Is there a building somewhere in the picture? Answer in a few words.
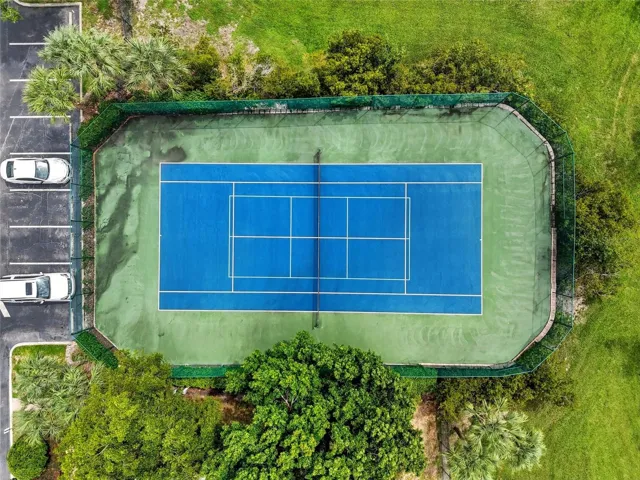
No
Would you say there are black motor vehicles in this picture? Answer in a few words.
No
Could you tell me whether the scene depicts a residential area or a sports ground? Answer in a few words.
sports ground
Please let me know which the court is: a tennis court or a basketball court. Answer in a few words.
tennis court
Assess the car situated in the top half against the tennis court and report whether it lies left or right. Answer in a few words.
to the left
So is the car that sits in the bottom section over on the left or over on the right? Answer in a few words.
left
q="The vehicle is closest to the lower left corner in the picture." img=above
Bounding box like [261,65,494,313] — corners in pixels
[0,272,79,305]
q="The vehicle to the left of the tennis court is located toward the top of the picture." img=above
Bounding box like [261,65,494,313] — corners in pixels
[1,156,73,185]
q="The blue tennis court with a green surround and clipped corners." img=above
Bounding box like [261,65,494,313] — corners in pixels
[94,107,553,365]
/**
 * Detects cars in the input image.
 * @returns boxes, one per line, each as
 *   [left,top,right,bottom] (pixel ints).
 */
[1,156,73,185]
[0,272,79,305]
